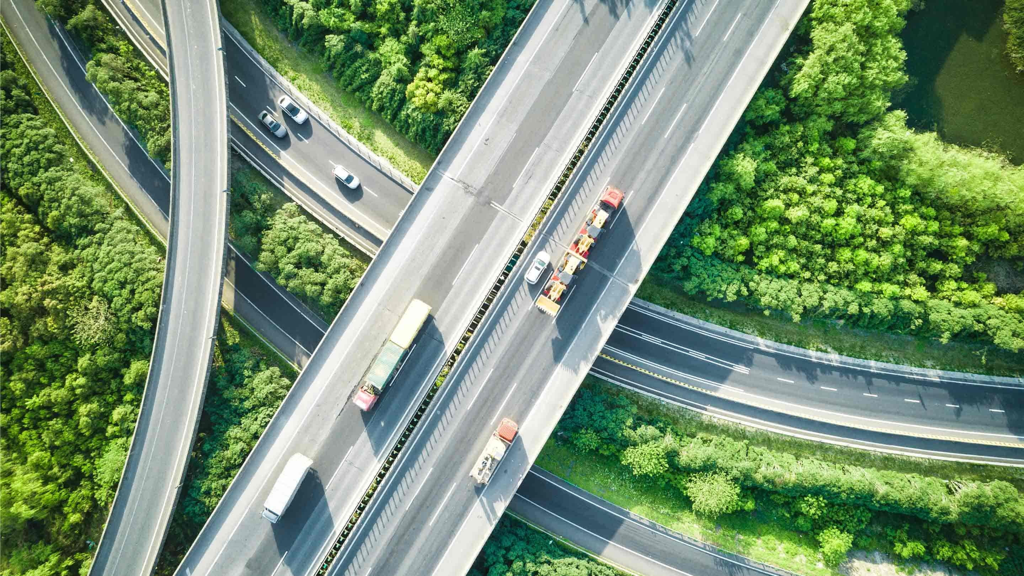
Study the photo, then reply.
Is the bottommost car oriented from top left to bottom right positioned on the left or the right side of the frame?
left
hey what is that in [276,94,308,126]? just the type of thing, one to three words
car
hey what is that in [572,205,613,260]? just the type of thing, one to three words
work vehicle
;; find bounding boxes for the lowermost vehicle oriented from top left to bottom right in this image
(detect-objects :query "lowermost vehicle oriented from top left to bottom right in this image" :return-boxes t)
[330,164,360,191]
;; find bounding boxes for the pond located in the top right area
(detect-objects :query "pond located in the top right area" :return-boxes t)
[874,0,1024,208]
